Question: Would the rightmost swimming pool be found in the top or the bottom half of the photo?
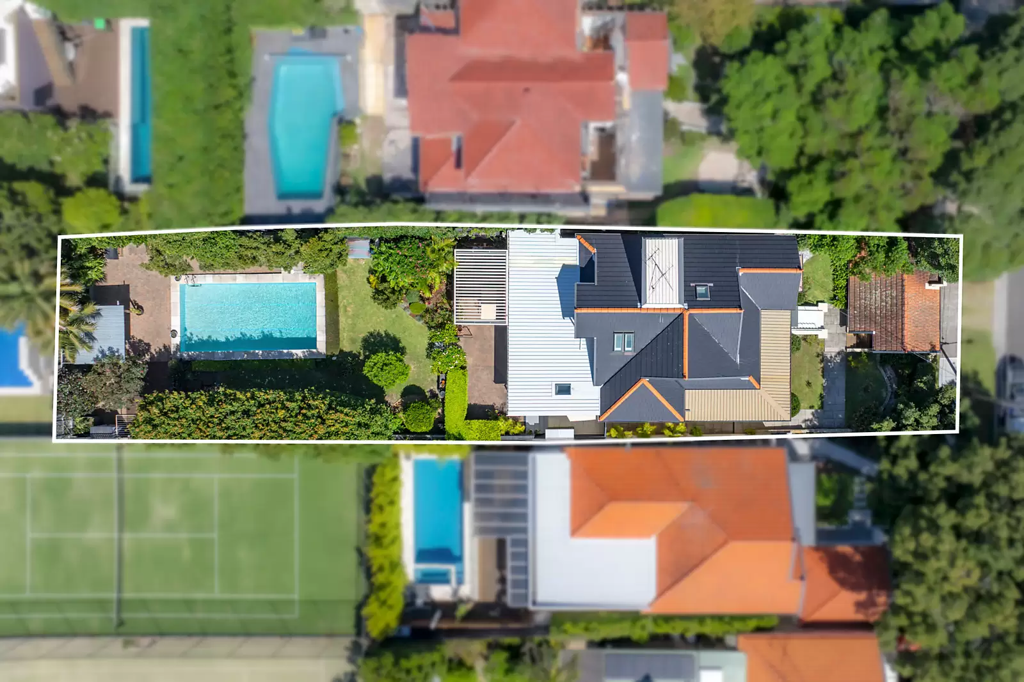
bottom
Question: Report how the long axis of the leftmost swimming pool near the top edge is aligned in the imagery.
from top to bottom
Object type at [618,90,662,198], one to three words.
shed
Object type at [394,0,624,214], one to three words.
house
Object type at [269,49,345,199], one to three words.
swimming pool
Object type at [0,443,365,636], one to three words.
tennis court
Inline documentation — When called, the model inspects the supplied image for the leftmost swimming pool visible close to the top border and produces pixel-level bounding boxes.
[119,18,151,192]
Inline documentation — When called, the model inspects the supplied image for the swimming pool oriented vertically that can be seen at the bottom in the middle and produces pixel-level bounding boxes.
[401,453,475,600]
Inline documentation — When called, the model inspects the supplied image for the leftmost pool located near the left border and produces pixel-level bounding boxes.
[0,295,42,394]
